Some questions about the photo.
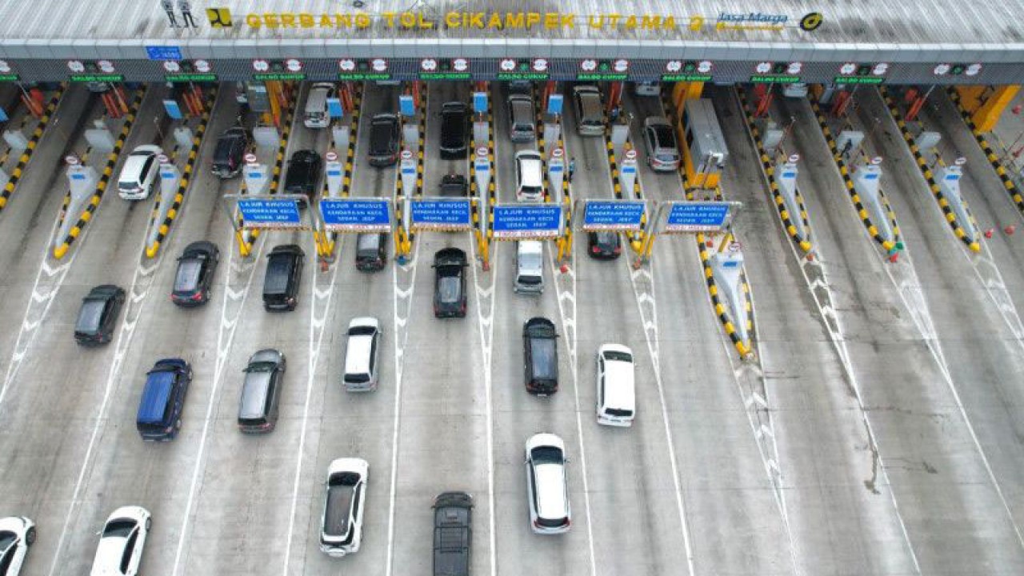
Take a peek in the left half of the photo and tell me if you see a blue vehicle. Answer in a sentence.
Yes, you'll find a blue vehicle in the left half of the photo.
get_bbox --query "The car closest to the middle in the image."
[510,240,546,294]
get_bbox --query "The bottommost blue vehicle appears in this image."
[136,358,194,443]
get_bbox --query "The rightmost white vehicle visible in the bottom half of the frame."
[593,345,637,428]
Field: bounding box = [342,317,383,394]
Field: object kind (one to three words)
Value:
car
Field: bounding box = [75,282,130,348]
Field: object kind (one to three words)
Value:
car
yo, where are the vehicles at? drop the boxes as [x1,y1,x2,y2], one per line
[282,150,322,209]
[342,317,383,394]
[237,348,288,436]
[512,151,545,202]
[136,358,194,443]
[518,317,561,398]
[90,506,154,576]
[75,282,130,348]
[524,433,572,536]
[369,113,399,168]
[300,78,336,129]
[772,81,804,98]
[376,78,401,88]
[628,80,657,97]
[641,119,677,172]
[586,231,622,263]
[169,239,222,308]
[210,124,253,179]
[355,213,391,271]
[593,345,637,428]
[435,171,471,230]
[436,102,470,159]
[261,243,307,313]
[505,93,536,143]
[320,457,371,558]
[572,85,606,137]
[432,247,470,319]
[510,240,546,294]
[119,146,158,200]
[427,494,477,576]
